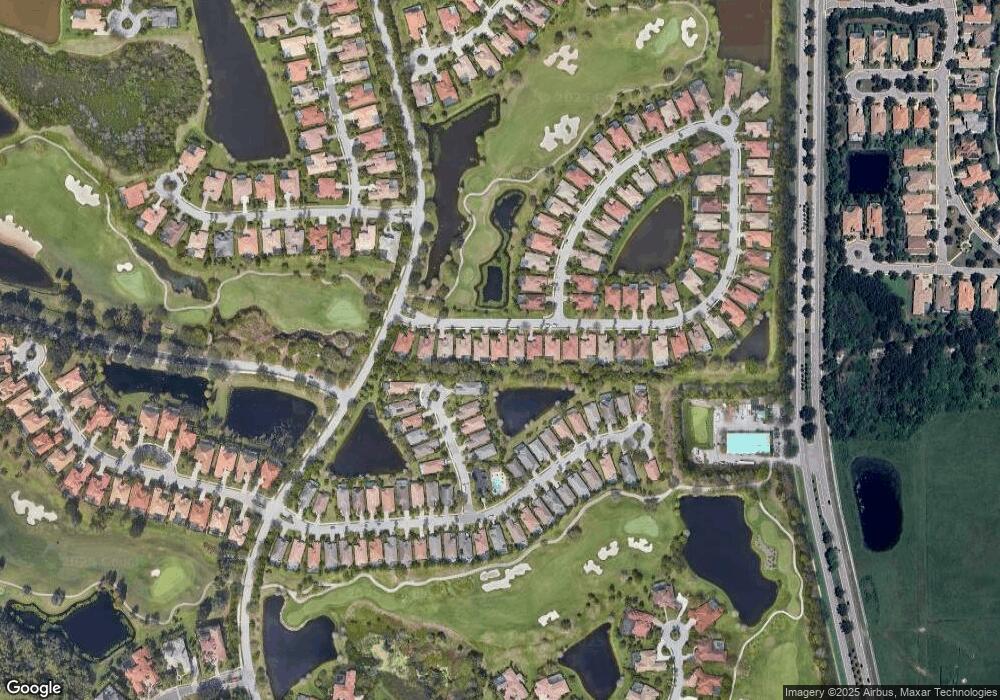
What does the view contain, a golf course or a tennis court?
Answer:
golf course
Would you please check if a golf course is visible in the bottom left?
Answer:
Yes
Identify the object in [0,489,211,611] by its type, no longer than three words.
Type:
golf course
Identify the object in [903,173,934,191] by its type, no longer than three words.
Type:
house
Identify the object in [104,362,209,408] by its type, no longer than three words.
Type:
pond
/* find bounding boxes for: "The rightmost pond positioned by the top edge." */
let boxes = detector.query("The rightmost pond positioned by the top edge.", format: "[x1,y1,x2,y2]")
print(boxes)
[716,0,776,74]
